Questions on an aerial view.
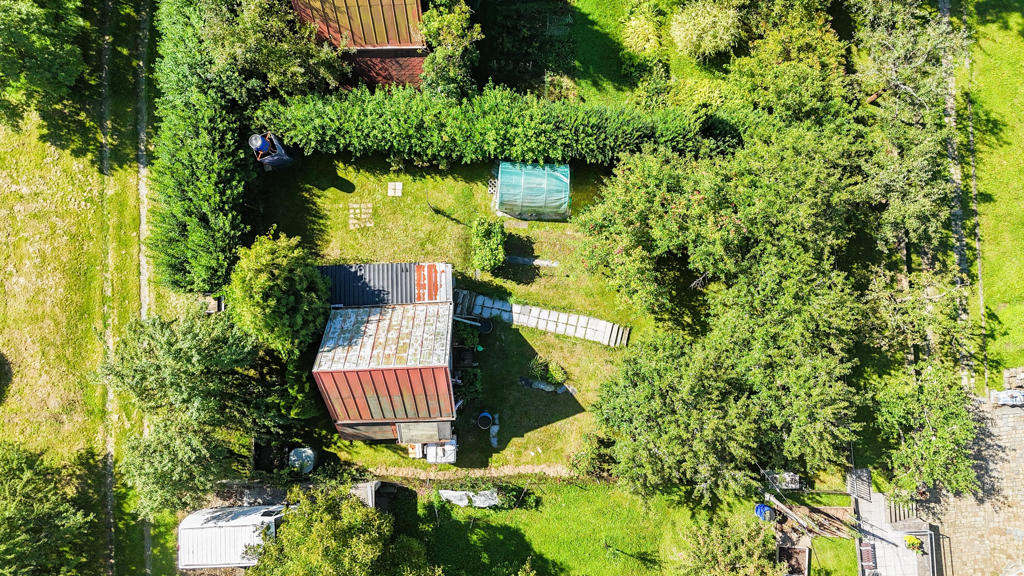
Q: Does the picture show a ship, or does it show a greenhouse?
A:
greenhouse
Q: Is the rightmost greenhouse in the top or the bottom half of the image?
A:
top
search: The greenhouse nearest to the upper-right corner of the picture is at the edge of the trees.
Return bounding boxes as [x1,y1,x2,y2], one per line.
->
[496,159,576,226]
